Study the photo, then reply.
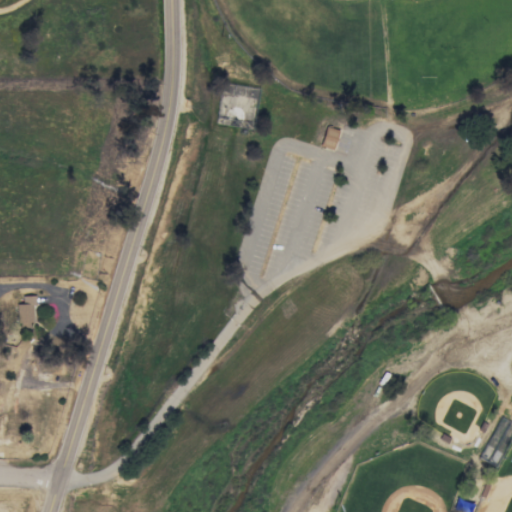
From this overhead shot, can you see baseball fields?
Yes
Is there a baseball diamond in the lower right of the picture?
Yes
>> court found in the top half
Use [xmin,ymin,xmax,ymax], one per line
[218,84,260,128]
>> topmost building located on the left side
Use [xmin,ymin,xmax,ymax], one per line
[18,296,37,328]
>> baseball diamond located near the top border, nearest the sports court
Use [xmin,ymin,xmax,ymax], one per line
[224,0,386,101]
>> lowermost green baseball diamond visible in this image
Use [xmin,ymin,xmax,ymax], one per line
[341,444,465,512]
